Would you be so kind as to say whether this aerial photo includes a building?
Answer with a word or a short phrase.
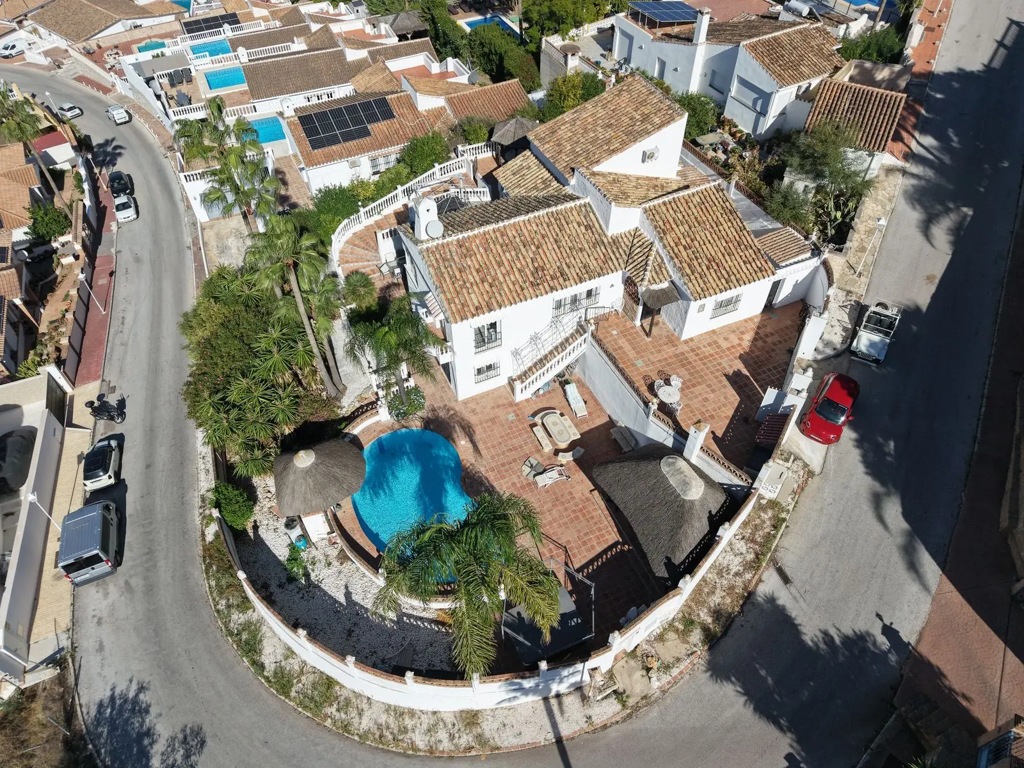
Yes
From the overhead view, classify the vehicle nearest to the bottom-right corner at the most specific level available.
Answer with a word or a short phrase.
car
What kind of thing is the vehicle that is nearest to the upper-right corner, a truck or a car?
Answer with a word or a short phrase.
car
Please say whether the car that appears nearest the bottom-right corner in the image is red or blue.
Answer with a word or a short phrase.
red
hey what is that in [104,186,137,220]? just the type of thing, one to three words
car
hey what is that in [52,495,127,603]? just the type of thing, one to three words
van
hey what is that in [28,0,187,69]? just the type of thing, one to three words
house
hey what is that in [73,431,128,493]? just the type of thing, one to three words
car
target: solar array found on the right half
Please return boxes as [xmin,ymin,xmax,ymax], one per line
[623,1,717,42]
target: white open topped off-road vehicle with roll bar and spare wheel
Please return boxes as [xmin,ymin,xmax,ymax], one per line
[850,292,909,368]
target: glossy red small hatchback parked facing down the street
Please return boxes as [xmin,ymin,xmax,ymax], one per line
[802,369,867,444]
